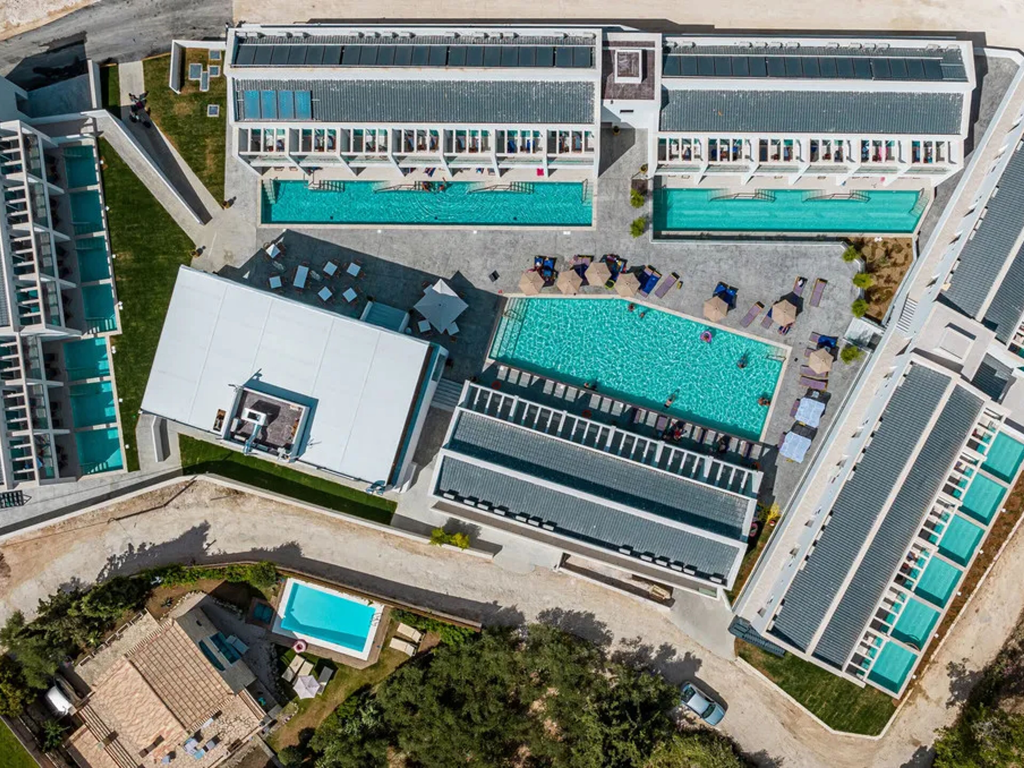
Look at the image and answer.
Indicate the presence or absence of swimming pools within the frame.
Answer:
Yes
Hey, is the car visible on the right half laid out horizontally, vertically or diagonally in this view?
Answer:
diagonally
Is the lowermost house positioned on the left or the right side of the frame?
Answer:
left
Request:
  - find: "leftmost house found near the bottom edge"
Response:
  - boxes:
[88,596,273,768]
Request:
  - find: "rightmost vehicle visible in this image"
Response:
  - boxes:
[677,678,726,725]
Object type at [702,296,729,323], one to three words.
umbrella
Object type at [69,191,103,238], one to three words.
swimming pool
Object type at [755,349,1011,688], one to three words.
building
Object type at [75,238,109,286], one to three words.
swimming pool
